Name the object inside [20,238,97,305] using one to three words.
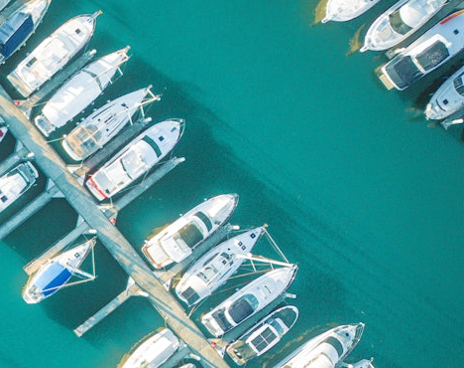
boat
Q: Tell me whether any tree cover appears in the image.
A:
No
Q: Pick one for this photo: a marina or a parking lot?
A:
marina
